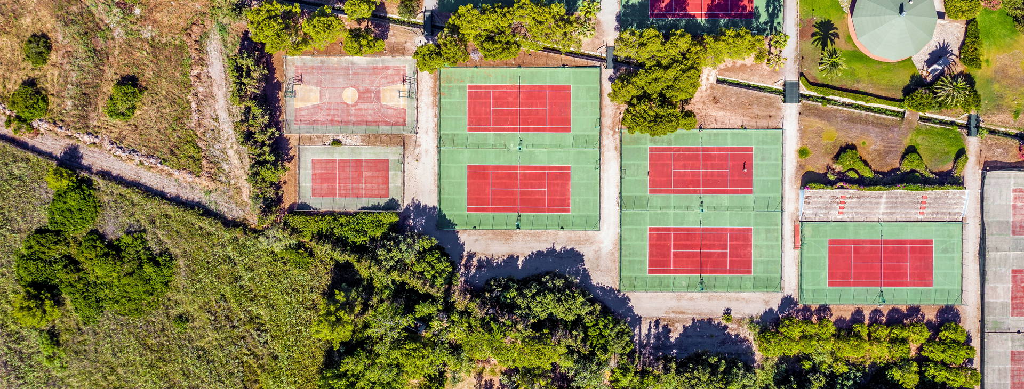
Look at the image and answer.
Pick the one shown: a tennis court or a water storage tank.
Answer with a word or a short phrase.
tennis court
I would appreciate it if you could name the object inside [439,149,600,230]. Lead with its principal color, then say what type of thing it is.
green tennis court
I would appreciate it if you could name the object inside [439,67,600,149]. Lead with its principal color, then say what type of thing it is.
green tennis court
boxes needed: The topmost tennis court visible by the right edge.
[982,170,1024,253]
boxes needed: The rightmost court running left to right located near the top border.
[621,0,784,36]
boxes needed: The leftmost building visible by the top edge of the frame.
[845,0,937,63]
